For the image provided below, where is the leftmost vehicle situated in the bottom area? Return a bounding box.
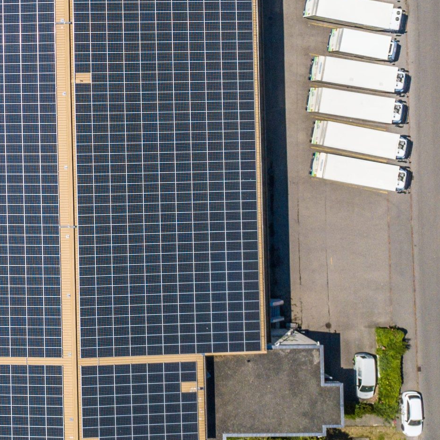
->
[350,351,378,395]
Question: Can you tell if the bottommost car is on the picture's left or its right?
right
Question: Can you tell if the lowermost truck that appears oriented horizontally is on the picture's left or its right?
right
